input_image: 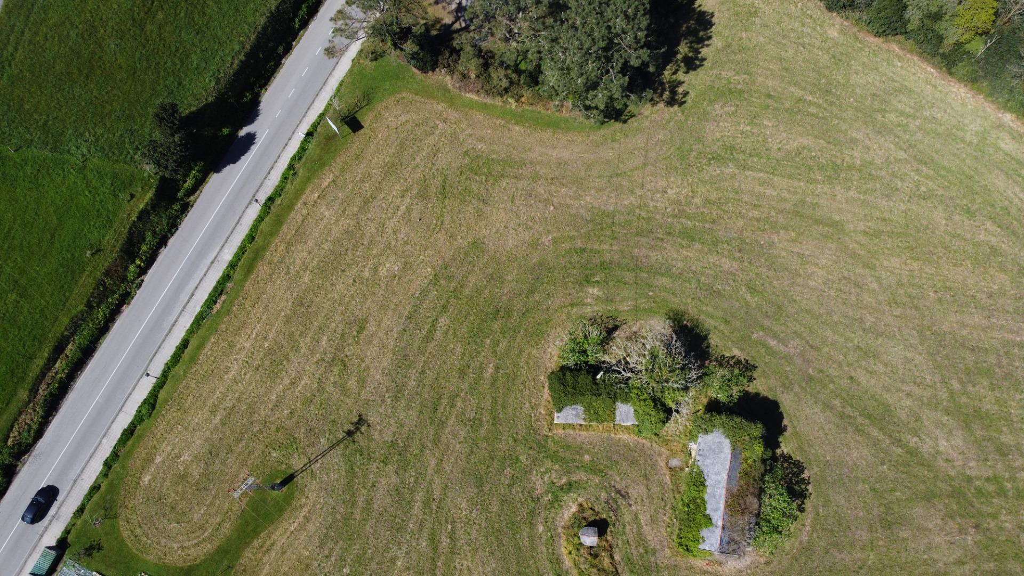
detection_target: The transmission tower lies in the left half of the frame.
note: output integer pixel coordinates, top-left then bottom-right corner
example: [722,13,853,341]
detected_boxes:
[227,470,282,505]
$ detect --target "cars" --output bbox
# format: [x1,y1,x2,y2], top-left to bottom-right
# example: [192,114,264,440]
[17,483,57,529]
